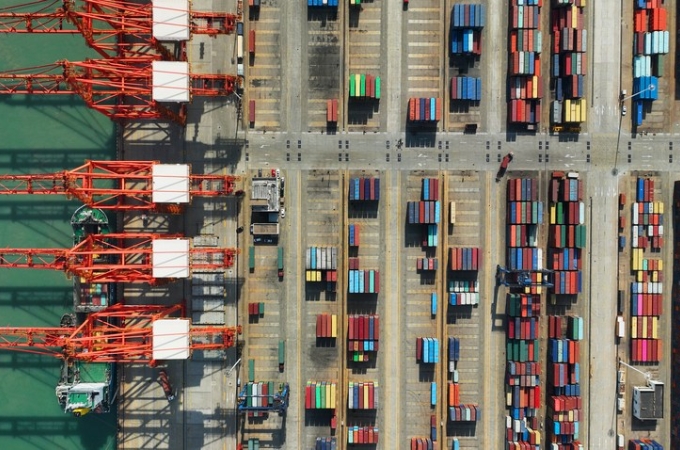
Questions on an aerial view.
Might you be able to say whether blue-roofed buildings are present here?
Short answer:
No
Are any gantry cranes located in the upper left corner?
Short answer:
Yes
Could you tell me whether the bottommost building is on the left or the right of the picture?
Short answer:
right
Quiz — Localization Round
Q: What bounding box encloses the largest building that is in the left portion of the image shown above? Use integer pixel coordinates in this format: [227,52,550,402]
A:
[252,177,281,212]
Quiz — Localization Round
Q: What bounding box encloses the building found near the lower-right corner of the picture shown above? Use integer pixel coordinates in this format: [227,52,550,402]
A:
[634,380,664,418]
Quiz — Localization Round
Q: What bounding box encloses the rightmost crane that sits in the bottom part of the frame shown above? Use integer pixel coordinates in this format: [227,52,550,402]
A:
[498,265,554,289]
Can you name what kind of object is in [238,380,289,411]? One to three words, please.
crane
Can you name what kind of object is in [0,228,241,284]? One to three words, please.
container crane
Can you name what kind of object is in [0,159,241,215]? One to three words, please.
container crane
